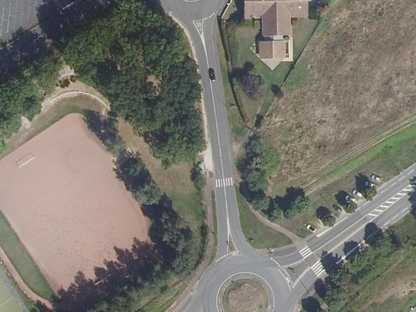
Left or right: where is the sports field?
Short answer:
left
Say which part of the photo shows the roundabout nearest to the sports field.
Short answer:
bottom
